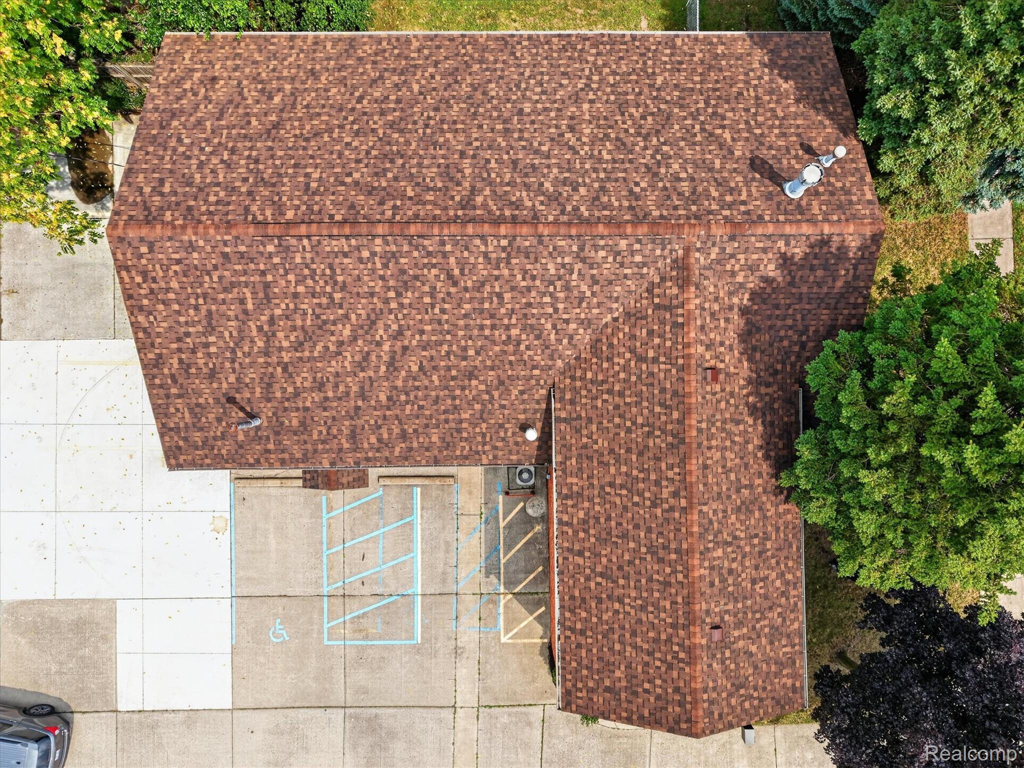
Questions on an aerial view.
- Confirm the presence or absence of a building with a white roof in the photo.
No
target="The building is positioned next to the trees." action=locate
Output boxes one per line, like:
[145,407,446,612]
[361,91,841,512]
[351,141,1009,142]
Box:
[105,30,885,744]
